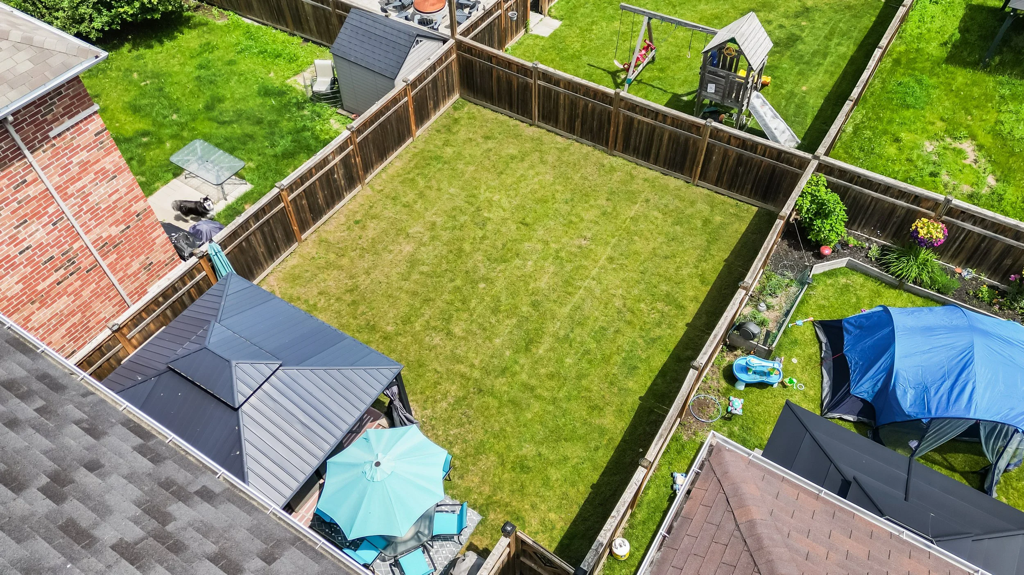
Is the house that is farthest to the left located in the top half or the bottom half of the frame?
top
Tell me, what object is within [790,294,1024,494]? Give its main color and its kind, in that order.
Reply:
blue tent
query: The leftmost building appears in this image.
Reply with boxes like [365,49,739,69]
[0,8,183,365]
